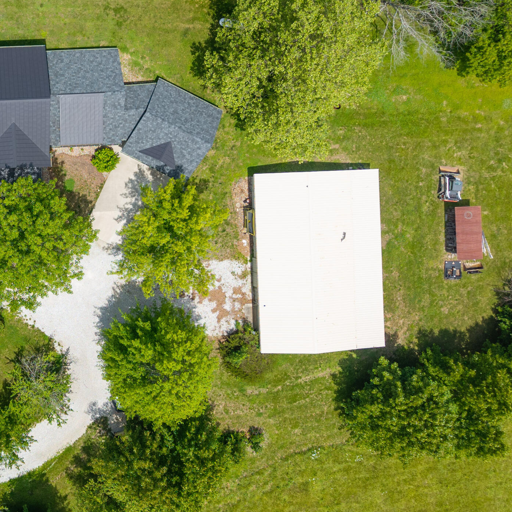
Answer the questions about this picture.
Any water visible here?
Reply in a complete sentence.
No, the picture contains no water.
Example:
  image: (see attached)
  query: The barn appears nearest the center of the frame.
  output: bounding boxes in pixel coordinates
[246,169,386,355]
